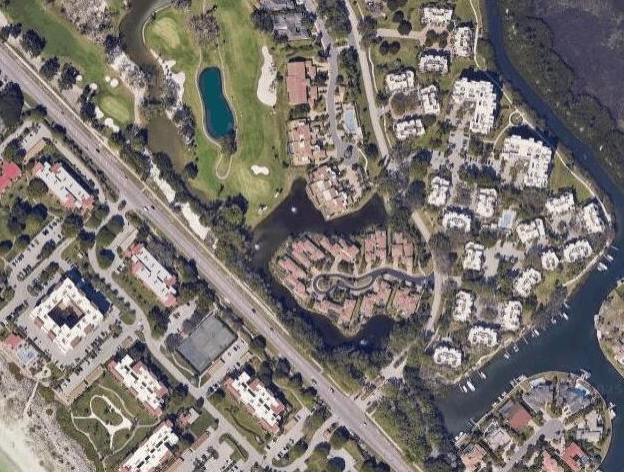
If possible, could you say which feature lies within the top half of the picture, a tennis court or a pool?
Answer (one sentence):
Visible within the top half of the picture is a pool.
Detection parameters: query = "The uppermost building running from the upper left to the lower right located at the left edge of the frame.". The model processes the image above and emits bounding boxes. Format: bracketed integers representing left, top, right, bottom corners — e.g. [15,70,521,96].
[26,155,97,216]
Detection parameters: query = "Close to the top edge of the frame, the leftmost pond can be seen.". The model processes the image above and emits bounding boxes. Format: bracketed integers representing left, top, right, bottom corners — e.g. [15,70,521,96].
[119,0,187,170]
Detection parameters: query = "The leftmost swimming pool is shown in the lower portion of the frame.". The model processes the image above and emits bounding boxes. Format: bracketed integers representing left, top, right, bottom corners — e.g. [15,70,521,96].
[15,344,38,363]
